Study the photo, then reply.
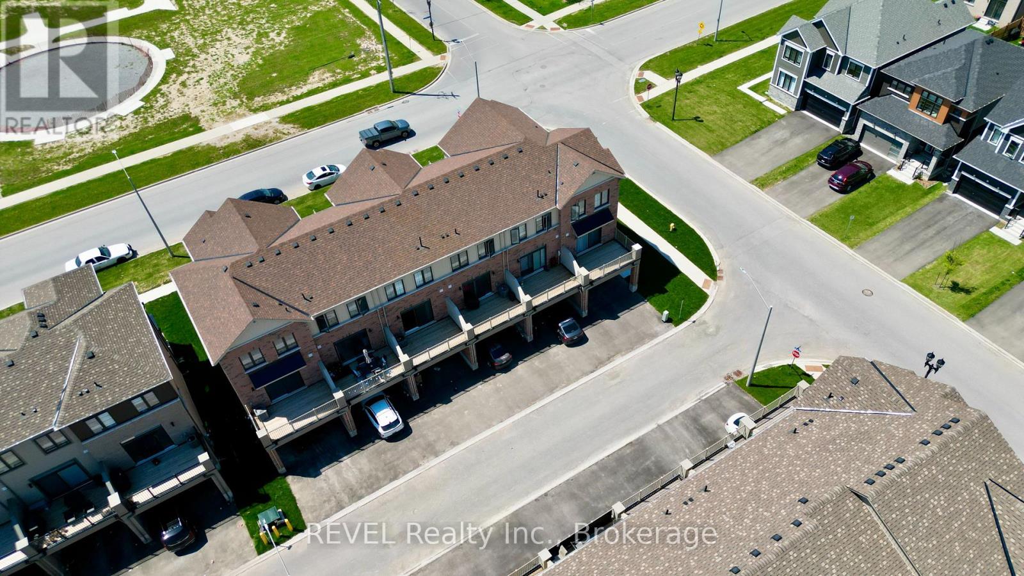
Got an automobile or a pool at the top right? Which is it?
automobile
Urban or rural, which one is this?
urban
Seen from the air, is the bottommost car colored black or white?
black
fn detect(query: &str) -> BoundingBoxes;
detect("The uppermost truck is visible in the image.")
[355,115,415,144]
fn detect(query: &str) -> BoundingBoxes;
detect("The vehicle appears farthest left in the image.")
[62,240,133,273]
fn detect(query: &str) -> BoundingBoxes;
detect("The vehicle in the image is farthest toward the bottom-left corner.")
[148,493,195,553]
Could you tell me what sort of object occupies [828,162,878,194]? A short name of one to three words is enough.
car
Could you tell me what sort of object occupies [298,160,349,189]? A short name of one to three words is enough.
car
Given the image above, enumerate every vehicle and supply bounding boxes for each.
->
[234,184,286,203]
[355,115,415,144]
[535,302,585,344]
[719,409,756,438]
[828,162,878,194]
[148,493,195,553]
[359,390,406,436]
[298,160,349,189]
[62,240,133,273]
[815,140,865,170]
[477,333,515,369]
